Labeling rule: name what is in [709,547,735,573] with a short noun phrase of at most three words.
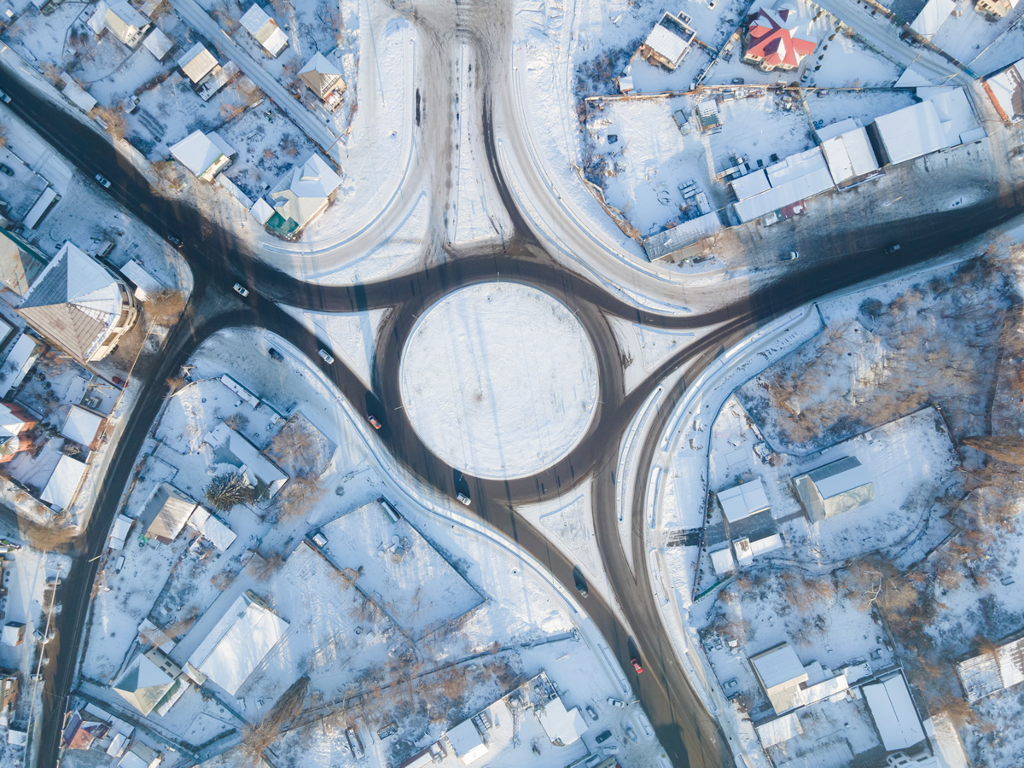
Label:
shed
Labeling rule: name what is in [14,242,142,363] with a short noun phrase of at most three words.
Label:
building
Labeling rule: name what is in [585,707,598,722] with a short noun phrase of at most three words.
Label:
vehicle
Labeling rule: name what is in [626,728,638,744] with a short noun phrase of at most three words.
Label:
vehicle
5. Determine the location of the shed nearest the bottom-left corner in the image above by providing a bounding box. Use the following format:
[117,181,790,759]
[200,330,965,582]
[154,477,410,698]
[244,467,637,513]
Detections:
[8,726,33,746]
